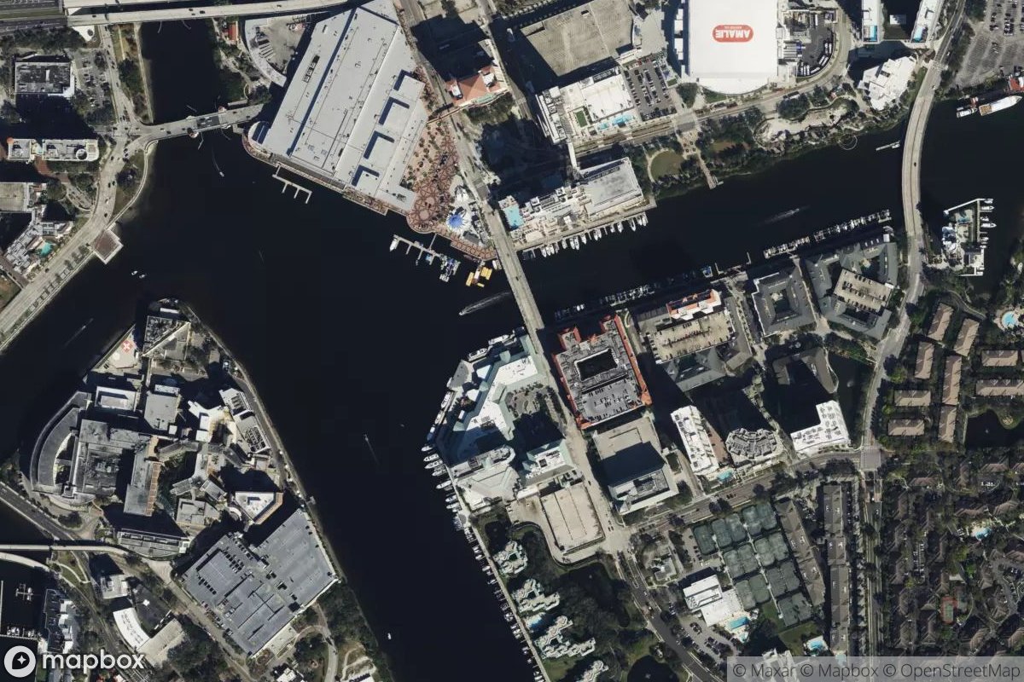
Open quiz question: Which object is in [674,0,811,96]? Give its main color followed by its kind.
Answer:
white stadium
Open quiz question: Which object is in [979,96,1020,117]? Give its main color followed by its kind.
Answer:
white ship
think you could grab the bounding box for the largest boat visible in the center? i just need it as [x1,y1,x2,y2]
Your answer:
[458,294,511,315]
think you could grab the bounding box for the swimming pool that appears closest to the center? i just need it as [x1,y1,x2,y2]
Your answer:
[504,205,523,229]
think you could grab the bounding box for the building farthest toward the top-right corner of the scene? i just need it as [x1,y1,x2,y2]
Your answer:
[910,0,949,47]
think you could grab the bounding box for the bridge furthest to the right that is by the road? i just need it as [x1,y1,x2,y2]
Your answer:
[901,99,930,236]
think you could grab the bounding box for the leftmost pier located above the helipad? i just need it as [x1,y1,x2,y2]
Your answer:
[92,229,123,264]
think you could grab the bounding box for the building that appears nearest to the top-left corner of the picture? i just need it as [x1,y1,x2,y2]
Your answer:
[15,62,75,98]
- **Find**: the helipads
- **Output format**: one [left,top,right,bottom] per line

[105,329,141,369]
